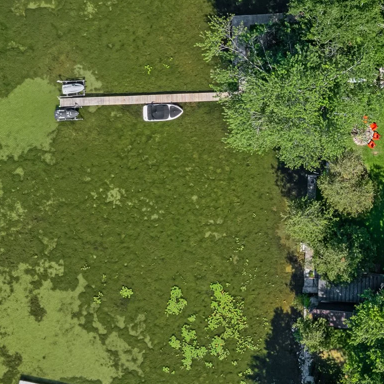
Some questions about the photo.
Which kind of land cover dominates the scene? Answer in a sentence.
For the most part, this view shows water.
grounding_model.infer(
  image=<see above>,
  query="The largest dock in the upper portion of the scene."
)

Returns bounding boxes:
[58,89,234,107]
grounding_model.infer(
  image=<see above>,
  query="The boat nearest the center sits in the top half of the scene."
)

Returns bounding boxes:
[142,103,184,121]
